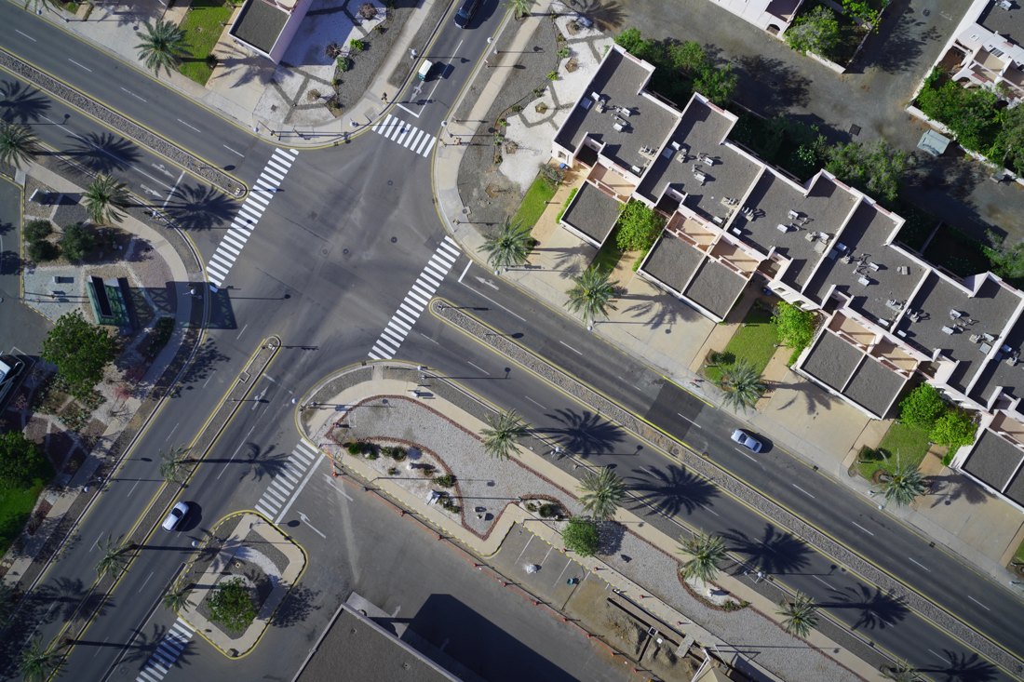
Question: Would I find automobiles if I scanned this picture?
Yes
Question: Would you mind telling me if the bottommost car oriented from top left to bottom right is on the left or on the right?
right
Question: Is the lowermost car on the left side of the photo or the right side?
left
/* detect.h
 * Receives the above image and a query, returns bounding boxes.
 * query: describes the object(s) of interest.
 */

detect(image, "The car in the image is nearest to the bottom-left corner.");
[160,500,187,533]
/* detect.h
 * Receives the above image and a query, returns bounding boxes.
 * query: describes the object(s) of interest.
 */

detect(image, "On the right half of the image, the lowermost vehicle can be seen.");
[731,429,763,453]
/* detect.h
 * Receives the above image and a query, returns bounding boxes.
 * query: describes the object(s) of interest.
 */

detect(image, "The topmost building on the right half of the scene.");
[712,0,812,40]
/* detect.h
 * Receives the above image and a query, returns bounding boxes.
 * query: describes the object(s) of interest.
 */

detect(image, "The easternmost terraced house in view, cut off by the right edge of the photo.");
[947,308,1024,493]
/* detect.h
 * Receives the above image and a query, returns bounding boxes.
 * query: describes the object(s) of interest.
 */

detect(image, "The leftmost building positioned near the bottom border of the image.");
[293,593,471,682]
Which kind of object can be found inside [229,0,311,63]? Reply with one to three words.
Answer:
house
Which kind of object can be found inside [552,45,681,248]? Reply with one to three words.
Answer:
house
